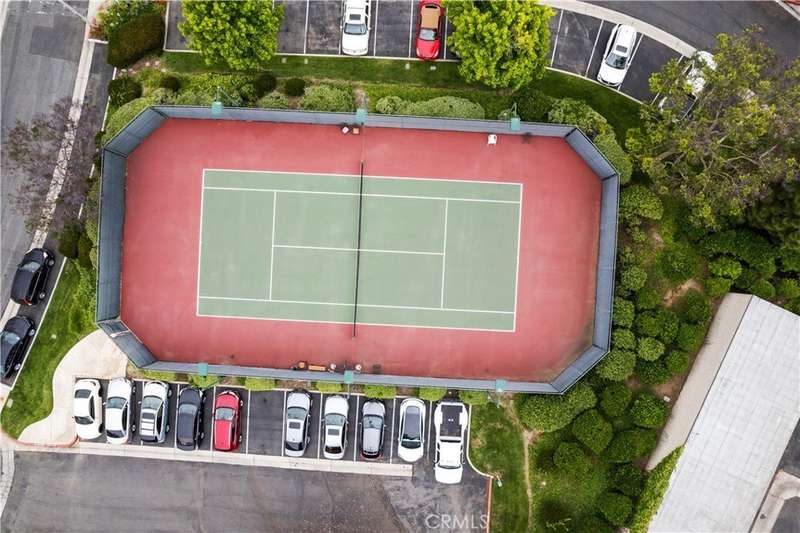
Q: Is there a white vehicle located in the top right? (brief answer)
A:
Yes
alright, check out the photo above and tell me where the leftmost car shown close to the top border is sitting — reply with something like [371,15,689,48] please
[340,0,370,56]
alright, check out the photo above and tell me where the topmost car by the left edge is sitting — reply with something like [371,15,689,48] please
[6,245,58,310]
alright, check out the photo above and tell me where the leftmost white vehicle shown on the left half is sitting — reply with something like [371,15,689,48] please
[70,379,105,439]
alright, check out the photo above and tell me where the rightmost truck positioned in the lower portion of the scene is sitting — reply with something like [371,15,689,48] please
[436,402,467,486]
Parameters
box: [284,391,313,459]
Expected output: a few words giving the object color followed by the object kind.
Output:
white car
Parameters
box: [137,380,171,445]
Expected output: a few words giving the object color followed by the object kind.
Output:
white car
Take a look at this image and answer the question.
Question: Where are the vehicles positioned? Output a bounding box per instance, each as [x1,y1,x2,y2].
[416,0,443,59]
[6,245,58,310]
[212,390,243,453]
[137,380,171,445]
[340,0,370,56]
[284,391,313,459]
[361,399,388,461]
[70,379,105,439]
[102,377,136,445]
[436,402,467,486]
[173,387,206,453]
[398,398,426,463]
[322,394,350,461]
[598,20,644,89]
[0,314,35,382]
